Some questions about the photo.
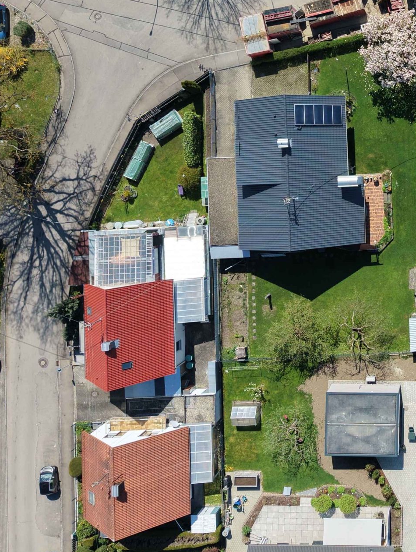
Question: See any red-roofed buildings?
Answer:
Yes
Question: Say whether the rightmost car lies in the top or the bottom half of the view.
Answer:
bottom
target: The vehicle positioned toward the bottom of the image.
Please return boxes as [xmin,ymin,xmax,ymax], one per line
[39,467,61,495]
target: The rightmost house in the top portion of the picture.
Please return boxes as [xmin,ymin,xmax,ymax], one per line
[233,94,368,252]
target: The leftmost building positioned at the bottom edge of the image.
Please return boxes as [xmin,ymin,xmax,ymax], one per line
[81,414,200,541]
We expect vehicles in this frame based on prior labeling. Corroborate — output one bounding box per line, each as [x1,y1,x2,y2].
[39,467,61,495]
[0,3,11,43]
